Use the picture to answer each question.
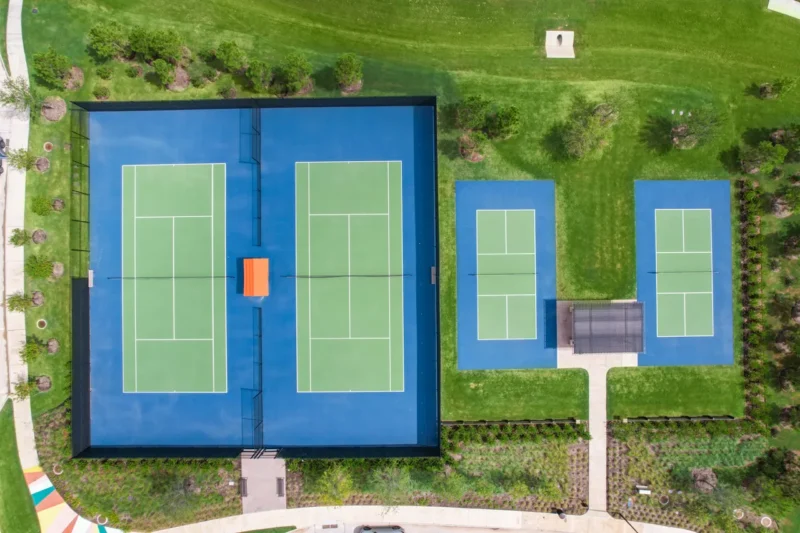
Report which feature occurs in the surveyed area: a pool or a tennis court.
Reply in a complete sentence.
The one in the frame is a tennis court.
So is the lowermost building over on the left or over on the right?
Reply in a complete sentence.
The lowermost building appears in the right half of the scene.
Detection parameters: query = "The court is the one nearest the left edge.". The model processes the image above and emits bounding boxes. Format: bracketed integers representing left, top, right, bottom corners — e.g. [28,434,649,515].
[88,107,262,449]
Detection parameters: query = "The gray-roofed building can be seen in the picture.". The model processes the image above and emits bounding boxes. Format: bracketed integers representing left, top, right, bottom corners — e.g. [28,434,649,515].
[569,302,645,355]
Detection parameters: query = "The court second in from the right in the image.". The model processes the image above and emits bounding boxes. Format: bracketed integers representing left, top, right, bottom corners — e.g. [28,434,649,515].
[455,180,557,370]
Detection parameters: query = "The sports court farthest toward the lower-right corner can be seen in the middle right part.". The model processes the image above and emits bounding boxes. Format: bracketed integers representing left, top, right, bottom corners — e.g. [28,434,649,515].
[635,180,734,366]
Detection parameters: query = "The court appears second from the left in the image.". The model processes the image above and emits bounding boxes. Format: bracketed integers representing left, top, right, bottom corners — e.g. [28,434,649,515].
[260,106,438,449]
